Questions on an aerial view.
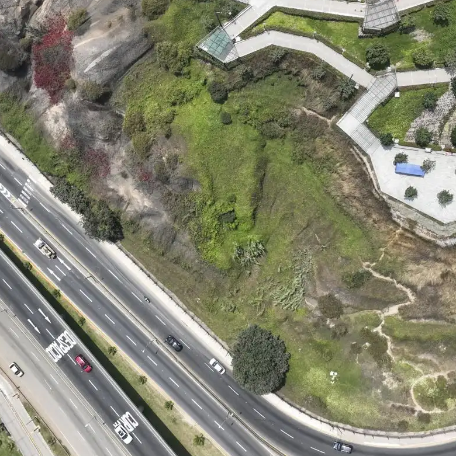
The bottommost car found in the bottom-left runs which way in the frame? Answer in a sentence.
The bottommost car found in the bottom-left has been laid out on a diagonal relative to the frame.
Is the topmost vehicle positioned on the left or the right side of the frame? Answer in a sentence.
The topmost vehicle sits on the left side.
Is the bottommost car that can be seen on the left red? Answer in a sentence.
No, the color of the bottommost car that can be seen on the left is white.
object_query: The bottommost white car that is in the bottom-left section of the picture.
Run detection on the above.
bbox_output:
[114,421,135,443]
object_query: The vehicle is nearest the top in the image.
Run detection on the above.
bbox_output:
[34,238,56,259]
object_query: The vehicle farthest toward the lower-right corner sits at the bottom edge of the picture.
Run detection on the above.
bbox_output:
[330,441,355,453]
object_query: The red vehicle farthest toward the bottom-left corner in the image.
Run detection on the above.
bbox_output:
[74,353,92,372]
